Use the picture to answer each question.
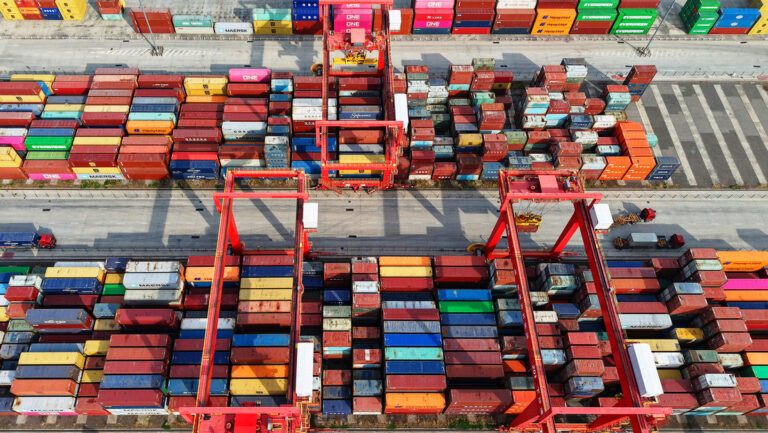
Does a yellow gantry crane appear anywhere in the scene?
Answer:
No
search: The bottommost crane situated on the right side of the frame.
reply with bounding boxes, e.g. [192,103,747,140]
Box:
[464,163,677,433]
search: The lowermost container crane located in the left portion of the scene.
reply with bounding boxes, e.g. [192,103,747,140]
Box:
[178,163,330,433]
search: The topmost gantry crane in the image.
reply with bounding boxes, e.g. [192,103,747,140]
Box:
[308,0,414,187]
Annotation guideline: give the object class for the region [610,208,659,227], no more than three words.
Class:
vehicle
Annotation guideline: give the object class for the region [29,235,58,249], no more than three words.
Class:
vehicle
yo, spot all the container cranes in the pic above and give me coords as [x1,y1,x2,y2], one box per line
[308,0,414,187]
[178,163,330,433]
[464,163,677,433]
